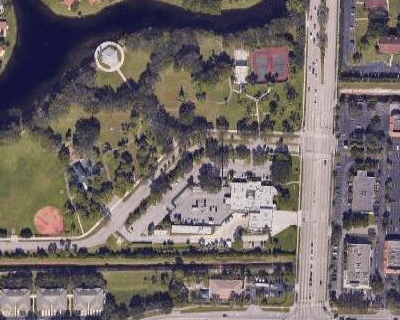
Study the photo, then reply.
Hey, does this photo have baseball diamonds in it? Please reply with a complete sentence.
Yes, this view includes a baseball diamond.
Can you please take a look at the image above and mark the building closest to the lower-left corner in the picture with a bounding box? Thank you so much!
[0,288,30,315]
